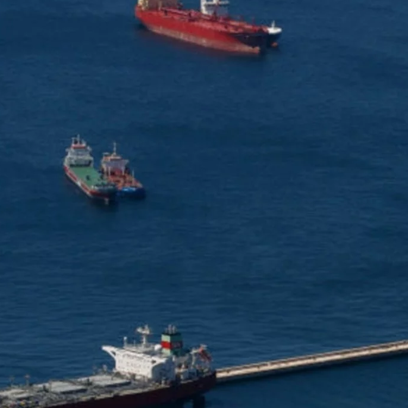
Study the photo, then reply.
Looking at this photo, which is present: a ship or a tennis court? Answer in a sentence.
Looking from above, you can make out a ship.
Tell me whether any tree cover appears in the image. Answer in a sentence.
No, no tree cover is visible.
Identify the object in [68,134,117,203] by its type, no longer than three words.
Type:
ship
